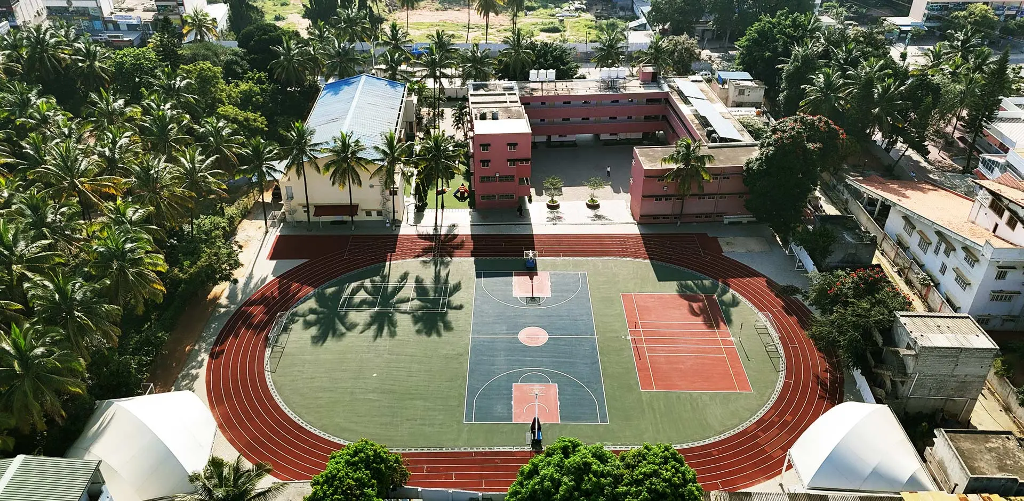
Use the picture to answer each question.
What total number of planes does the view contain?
zero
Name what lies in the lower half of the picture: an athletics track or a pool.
athletics track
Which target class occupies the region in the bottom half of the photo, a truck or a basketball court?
basketball court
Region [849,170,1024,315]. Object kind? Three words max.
house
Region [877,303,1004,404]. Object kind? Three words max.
house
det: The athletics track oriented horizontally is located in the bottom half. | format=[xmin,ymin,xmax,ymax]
[211,233,837,491]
